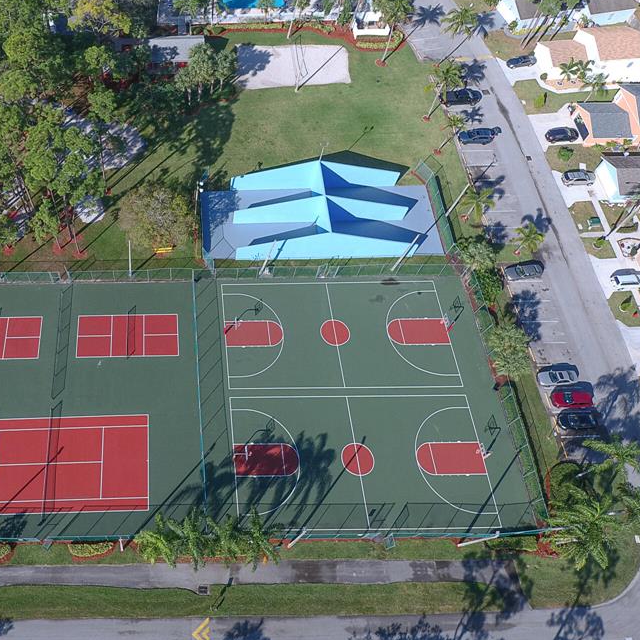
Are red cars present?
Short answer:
Yes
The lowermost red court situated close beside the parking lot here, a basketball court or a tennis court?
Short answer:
basketball court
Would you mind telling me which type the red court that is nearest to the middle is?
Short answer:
basketball court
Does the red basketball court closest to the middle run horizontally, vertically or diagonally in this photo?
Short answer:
horizontally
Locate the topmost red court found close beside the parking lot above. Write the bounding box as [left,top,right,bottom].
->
[219,281,463,390]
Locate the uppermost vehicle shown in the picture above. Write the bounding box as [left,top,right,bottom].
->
[507,52,536,67]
